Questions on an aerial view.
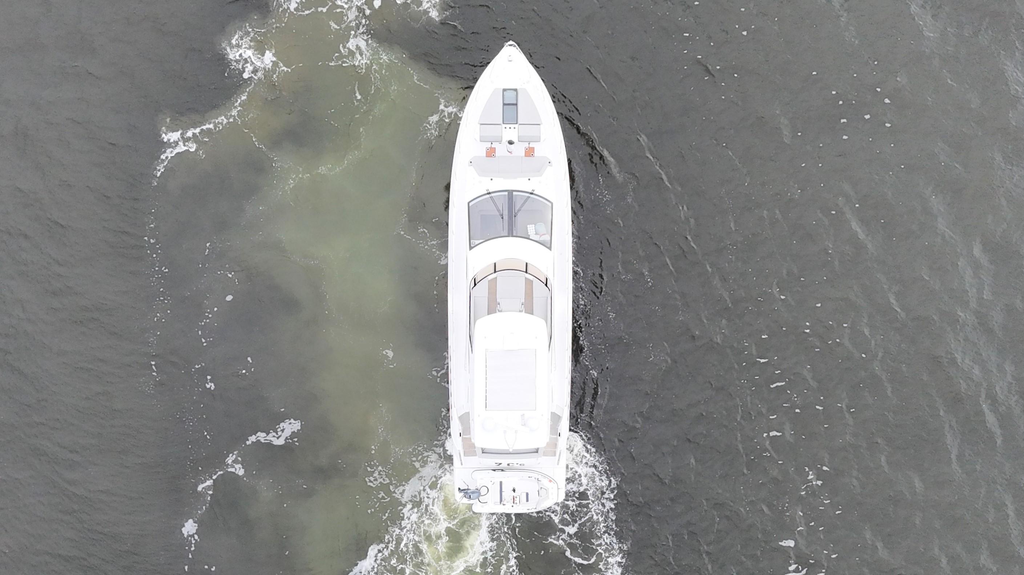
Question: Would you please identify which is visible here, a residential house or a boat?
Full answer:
This aerial view contains a boat.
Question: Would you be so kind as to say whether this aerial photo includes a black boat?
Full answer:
No, the frame has no black boat in it.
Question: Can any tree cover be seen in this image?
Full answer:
No, the picture contains no tree cover.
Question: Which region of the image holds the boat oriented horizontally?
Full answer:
Look in the bottom portion of the view to spot the boat oriented horizontally.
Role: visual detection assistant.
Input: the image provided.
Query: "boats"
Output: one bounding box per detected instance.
[458,469,558,514]
[448,40,572,503]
